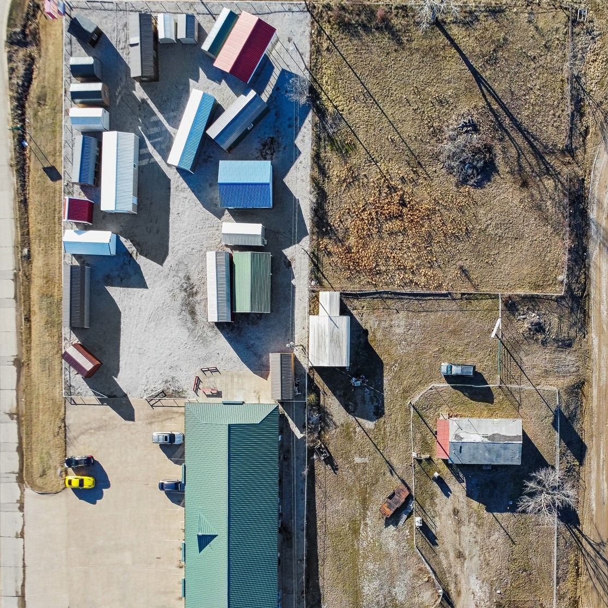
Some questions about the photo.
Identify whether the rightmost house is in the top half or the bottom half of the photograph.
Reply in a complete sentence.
The rightmost house is in the bottom half of the image.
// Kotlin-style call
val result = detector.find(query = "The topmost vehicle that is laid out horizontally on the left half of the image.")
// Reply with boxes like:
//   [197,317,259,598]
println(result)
[150,431,181,445]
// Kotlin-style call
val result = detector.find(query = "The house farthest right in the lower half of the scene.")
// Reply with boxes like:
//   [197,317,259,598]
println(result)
[437,419,522,464]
